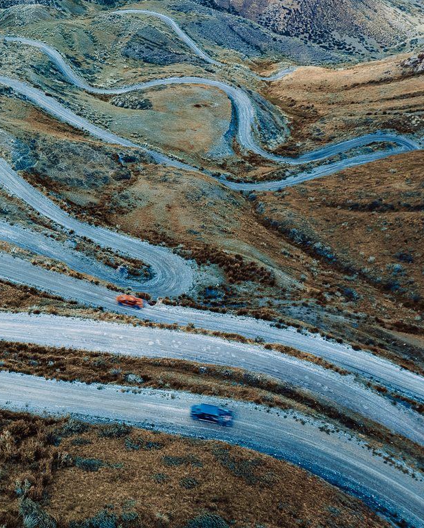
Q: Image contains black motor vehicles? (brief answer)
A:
No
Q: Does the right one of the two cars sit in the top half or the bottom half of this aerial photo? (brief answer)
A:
bottom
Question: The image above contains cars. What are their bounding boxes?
[190,405,236,430]
[116,296,143,310]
